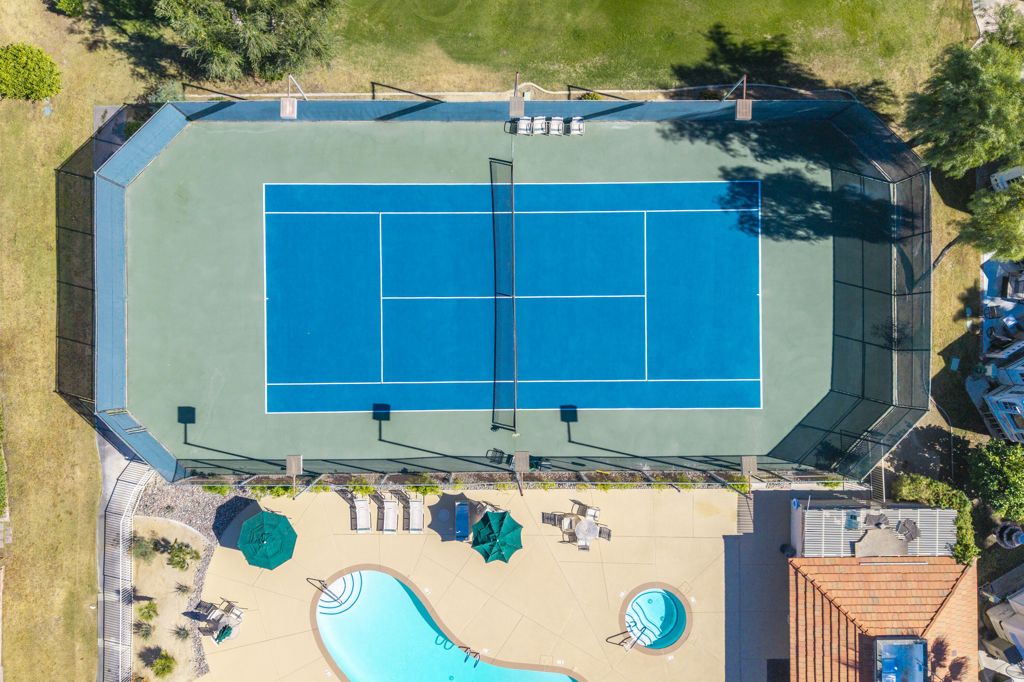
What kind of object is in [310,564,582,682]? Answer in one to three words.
swimming pool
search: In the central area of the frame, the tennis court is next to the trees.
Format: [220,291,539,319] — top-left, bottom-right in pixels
[123,119,900,488]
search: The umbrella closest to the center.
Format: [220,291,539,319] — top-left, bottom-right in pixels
[472,511,523,563]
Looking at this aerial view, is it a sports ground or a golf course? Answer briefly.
sports ground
